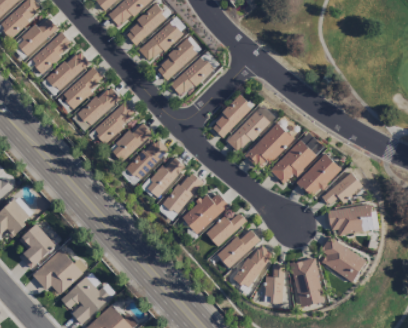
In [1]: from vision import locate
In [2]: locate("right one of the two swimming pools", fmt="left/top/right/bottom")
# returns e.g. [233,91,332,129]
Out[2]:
[126,302,145,322]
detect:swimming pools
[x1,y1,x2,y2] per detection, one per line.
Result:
[21,186,36,207]
[126,302,145,322]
